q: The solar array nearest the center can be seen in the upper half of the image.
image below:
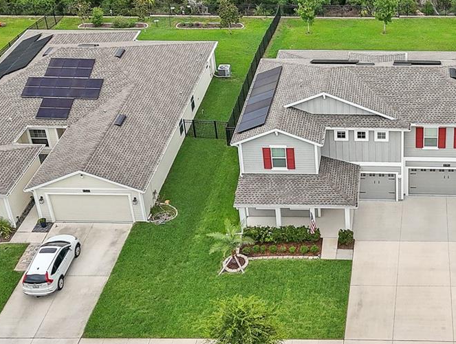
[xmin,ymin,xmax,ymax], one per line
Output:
[237,63,281,131]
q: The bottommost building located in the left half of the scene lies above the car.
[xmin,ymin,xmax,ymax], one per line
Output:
[0,30,217,226]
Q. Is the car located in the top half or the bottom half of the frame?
bottom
